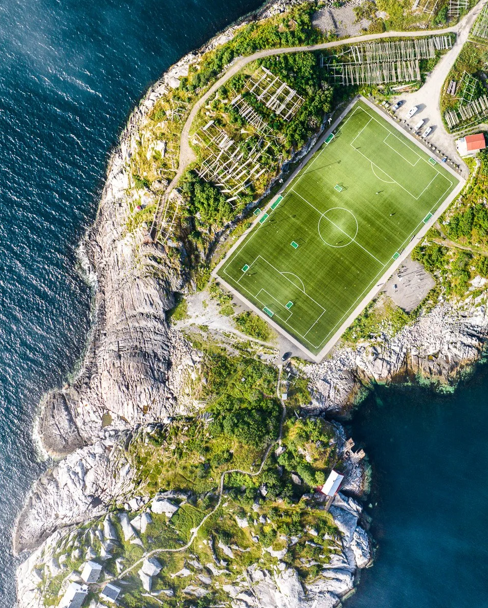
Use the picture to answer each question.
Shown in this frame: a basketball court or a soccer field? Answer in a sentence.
It is a soccer field that can be seen here.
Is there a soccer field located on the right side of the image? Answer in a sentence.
Yes, a soccer field shows up on the right side of the image.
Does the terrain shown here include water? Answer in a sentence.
Yes, there is water in the image.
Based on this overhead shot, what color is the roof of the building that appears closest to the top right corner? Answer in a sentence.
From above, the roof of the building that appears closest to the top right corner looks red.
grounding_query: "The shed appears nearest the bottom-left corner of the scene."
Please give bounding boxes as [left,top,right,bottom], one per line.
[61,585,87,608]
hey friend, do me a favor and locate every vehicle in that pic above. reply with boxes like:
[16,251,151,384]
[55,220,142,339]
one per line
[394,101,402,110]
[414,119,425,131]
[406,104,418,118]
[422,126,432,138]
[282,352,289,361]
